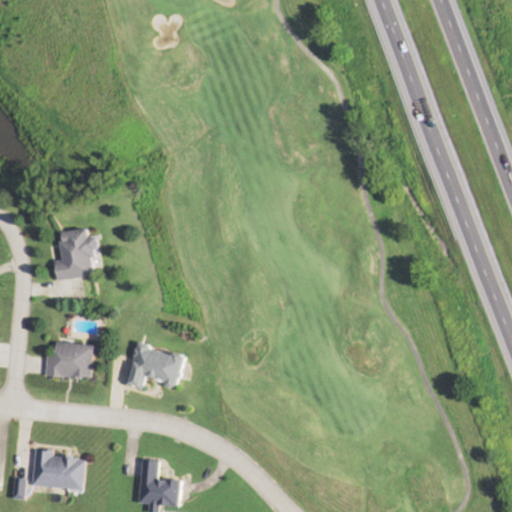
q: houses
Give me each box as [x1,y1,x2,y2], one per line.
[56,226,104,280]
[35,449,94,496]
[128,340,190,391]
[46,338,98,380]
[139,458,184,512]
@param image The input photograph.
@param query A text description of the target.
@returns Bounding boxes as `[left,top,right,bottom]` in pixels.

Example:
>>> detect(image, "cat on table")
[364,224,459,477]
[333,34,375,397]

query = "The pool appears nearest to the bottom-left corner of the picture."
[66,315,106,341]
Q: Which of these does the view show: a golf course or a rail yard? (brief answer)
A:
golf course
